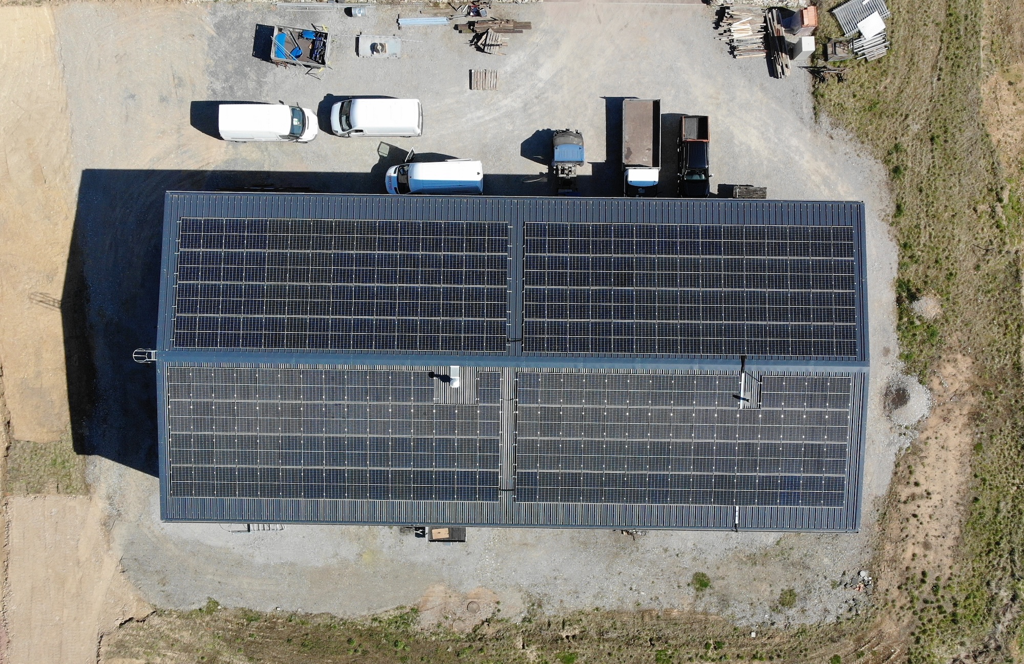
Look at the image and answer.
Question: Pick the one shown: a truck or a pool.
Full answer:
There is a truck in the scene.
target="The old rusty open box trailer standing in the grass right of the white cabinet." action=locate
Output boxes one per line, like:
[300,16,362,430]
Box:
[815,35,858,64]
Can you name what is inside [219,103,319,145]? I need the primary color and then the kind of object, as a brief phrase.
white van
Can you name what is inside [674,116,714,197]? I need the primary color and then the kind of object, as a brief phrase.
black truck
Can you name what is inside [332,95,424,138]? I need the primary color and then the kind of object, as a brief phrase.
white van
